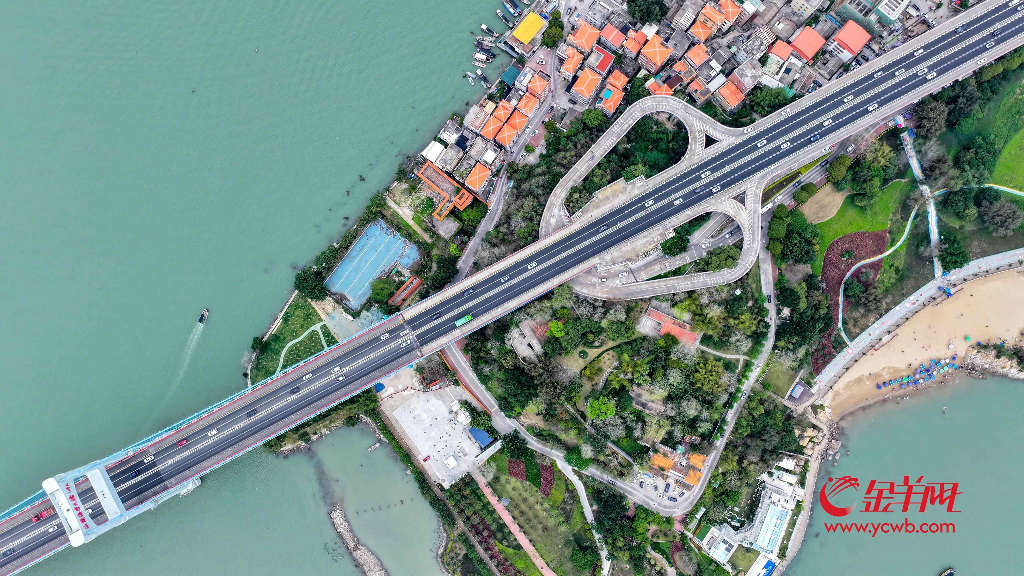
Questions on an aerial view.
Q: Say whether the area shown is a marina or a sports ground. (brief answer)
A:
marina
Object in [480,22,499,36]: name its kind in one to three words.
boat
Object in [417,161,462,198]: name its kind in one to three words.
building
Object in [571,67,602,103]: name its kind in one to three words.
house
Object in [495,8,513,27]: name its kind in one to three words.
boat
